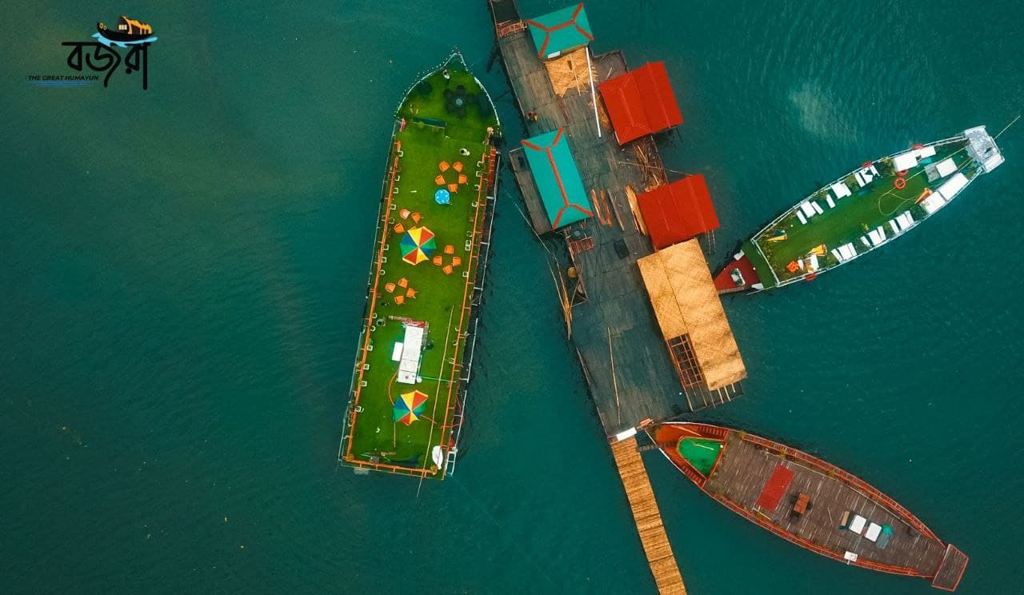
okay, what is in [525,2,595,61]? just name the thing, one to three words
shed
